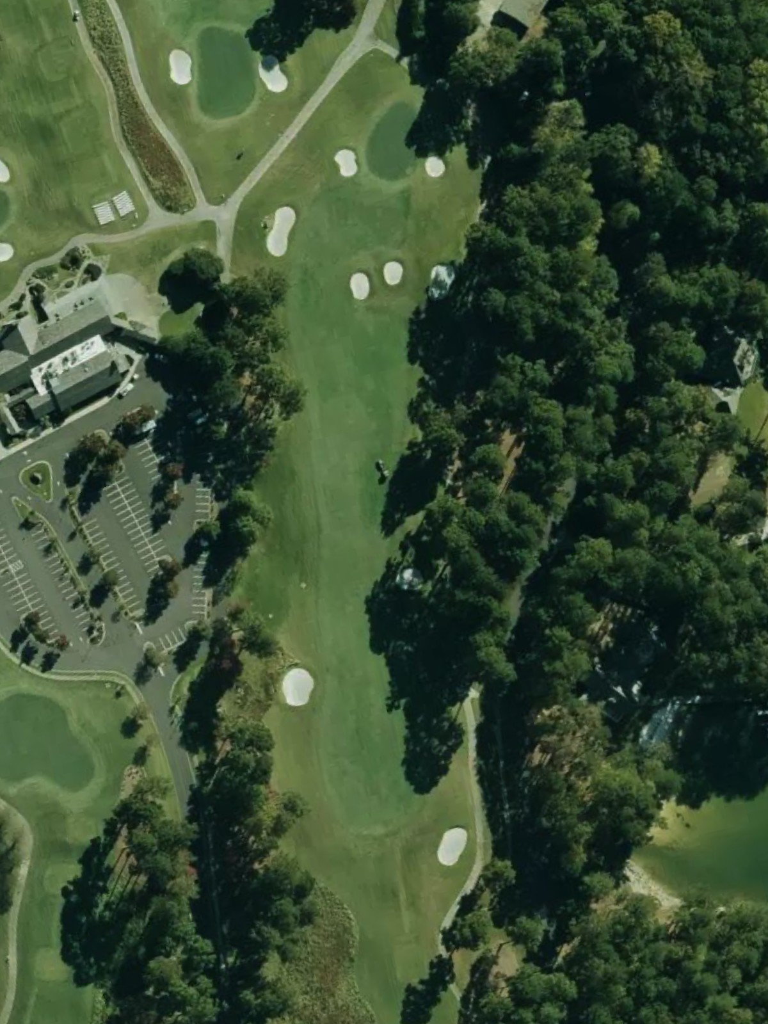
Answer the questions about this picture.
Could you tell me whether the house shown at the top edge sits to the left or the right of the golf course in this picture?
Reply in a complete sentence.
Looking at the picture, you'll find the house shown at the top edge to the right of the golf course.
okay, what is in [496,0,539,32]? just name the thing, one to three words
house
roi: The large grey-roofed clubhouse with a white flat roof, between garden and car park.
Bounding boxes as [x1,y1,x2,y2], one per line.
[0,303,157,448]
